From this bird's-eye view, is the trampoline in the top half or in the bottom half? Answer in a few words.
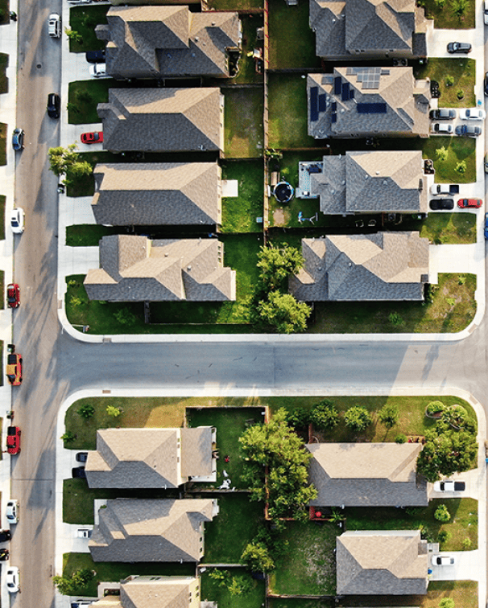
top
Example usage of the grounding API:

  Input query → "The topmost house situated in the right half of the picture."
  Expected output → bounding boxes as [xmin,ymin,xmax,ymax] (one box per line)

[309,0,427,60]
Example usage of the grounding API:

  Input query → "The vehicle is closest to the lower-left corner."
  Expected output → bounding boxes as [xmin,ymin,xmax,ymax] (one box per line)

[6,567,21,593]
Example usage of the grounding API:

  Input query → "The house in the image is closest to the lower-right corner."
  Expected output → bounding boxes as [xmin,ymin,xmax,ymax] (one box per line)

[336,531,428,595]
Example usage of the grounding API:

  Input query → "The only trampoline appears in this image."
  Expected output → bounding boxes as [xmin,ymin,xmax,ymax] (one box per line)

[272,179,294,201]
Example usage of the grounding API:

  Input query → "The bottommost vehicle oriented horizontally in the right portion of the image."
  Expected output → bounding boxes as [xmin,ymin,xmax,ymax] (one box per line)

[430,555,456,567]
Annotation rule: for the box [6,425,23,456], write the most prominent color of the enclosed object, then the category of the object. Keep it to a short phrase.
red vehicle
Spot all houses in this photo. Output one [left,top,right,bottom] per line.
[98,88,223,153]
[83,428,215,488]
[91,162,221,225]
[310,150,428,216]
[305,443,428,507]
[307,66,430,140]
[309,0,427,60]
[96,5,241,82]
[336,531,428,595]
[88,578,200,608]
[288,232,429,302]
[84,234,234,301]
[89,498,217,563]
